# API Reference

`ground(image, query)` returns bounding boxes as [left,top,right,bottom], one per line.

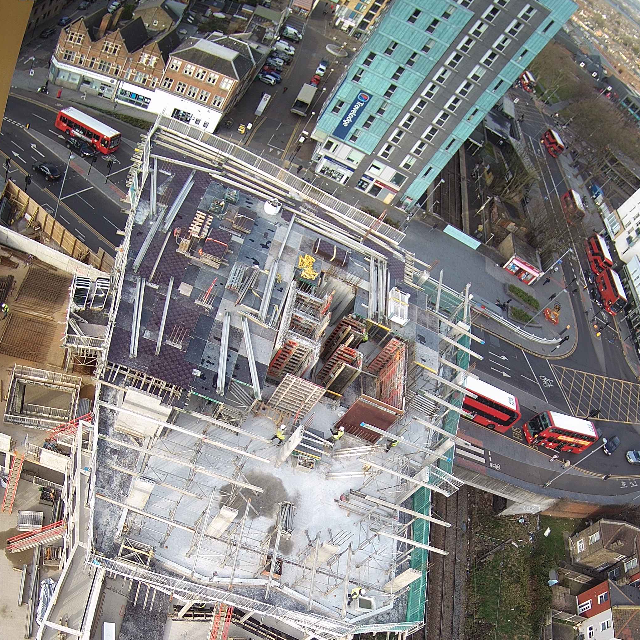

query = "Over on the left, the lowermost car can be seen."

[33,165,61,183]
